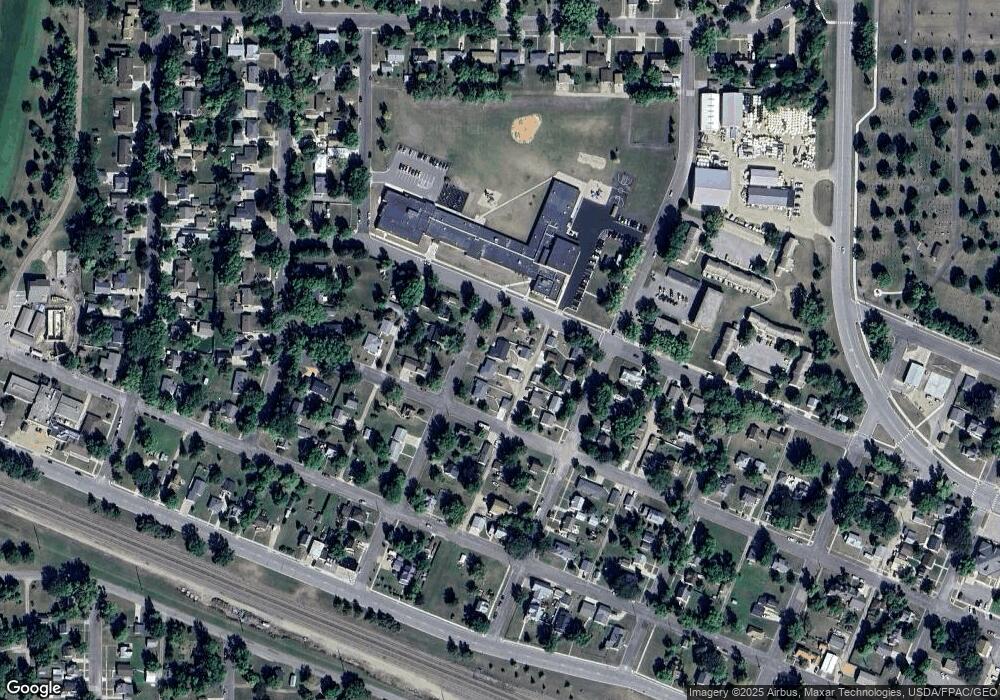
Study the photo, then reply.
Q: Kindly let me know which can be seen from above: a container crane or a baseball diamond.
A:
baseball diamond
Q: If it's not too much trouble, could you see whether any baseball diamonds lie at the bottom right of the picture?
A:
No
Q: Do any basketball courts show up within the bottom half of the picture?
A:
No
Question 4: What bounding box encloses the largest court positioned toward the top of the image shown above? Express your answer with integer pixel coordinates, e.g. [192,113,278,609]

[603,170,635,212]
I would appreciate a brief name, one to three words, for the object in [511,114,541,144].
baseball field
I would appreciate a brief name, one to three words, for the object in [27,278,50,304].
shed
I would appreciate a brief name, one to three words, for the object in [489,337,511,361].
house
